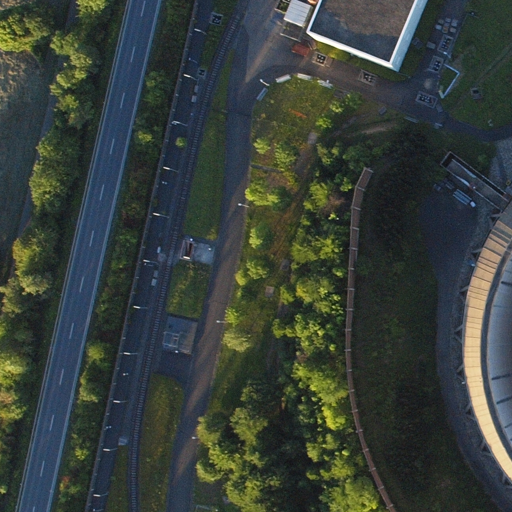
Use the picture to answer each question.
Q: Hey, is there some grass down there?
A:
Yes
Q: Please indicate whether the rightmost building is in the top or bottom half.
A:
top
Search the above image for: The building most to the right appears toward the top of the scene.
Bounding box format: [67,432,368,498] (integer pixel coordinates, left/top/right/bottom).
[307,0,427,71]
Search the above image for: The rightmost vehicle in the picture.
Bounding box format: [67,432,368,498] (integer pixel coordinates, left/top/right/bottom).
[449,188,475,209]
